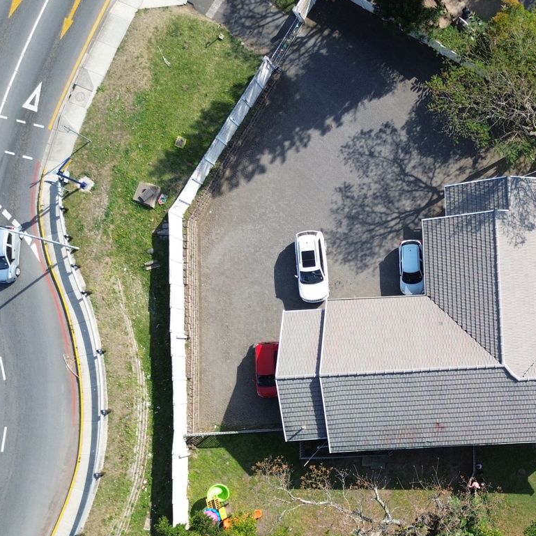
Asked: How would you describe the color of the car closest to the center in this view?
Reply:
white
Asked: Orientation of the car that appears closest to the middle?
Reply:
from top to bottom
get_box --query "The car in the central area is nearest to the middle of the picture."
[295,230,331,302]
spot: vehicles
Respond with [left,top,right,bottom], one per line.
[252,340,280,401]
[394,239,423,296]
[0,226,28,285]
[295,230,331,302]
